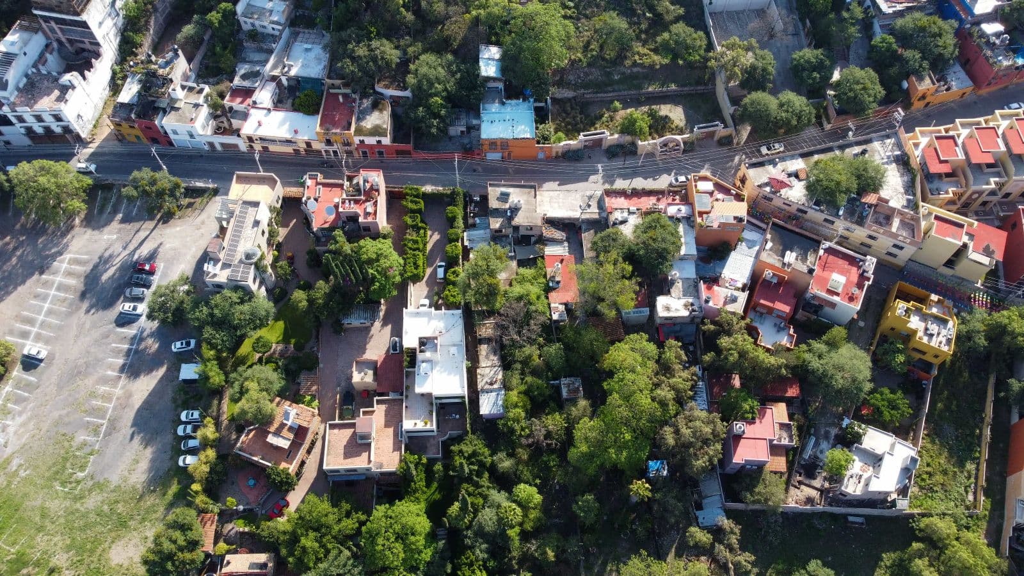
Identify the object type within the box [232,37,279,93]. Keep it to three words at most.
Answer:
house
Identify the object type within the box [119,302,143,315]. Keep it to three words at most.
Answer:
vehicle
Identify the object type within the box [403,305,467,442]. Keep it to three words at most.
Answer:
house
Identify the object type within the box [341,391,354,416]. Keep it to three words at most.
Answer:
vehicle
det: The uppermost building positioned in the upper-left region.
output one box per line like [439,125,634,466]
[239,0,294,46]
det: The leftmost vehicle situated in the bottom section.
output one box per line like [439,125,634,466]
[22,347,49,360]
